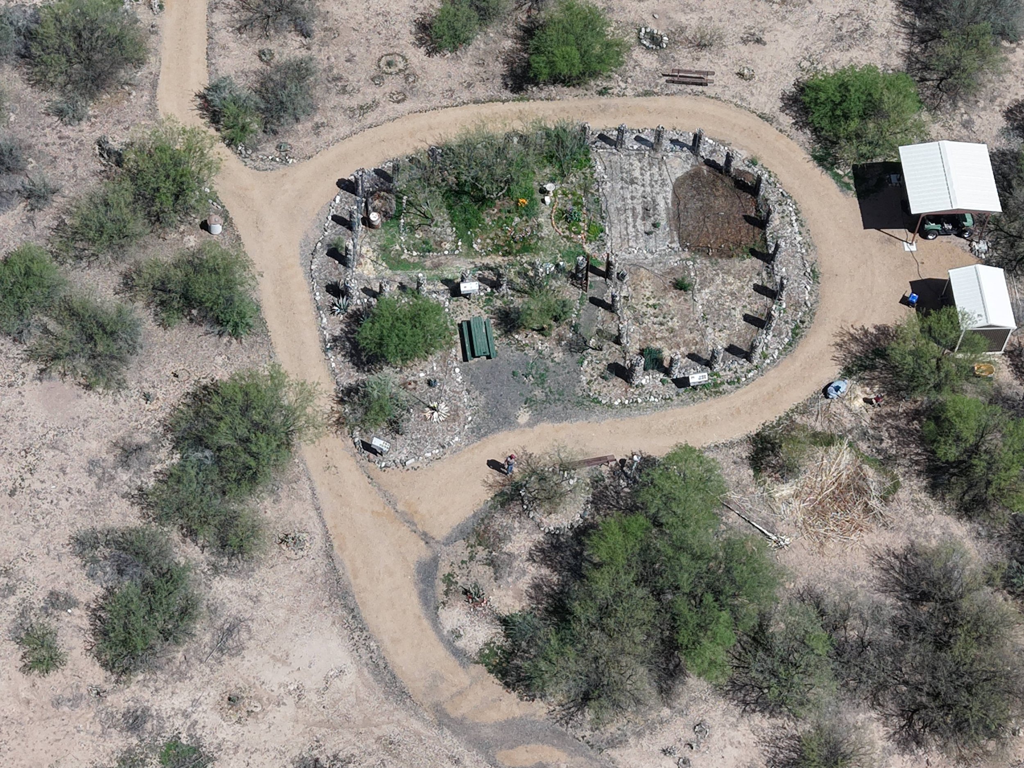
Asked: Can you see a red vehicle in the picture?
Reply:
No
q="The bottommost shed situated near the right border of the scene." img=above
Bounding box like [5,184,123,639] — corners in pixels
[942,264,1017,352]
